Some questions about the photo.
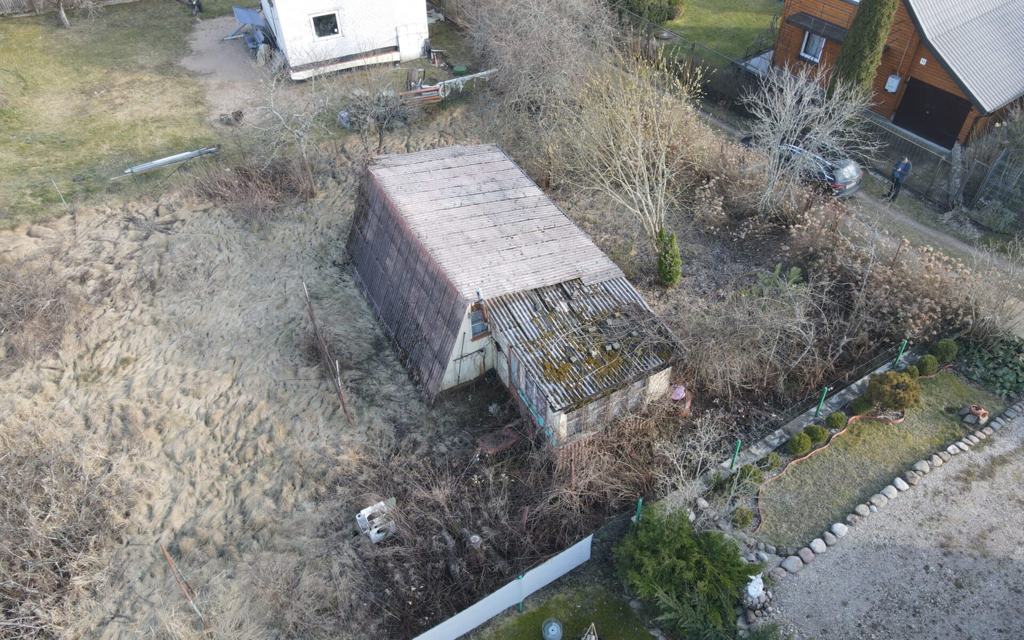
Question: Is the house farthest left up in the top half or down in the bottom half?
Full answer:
The house farthest left sits in the top half of the picture.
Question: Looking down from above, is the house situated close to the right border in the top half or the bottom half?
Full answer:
The top half of the photo is where the house situated close to the right border is.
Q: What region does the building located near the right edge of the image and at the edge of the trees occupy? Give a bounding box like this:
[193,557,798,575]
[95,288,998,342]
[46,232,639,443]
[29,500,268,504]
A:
[773,0,1024,149]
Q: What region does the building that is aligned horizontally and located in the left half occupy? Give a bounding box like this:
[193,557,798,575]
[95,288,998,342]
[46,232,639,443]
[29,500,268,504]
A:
[255,0,431,80]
